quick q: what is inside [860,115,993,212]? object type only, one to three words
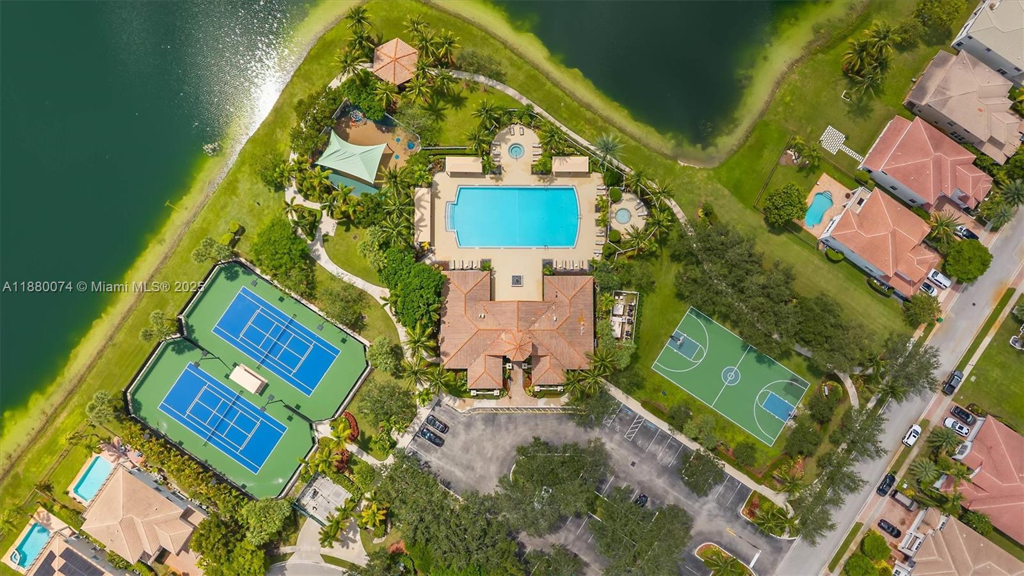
house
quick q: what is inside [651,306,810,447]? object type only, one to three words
basketball court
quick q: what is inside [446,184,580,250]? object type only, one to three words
swimming pool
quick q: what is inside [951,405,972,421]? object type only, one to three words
car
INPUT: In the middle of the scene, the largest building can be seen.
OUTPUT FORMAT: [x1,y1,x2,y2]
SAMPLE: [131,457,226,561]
[442,271,594,389]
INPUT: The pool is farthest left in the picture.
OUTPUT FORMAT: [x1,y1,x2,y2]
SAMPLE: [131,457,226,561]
[8,522,51,570]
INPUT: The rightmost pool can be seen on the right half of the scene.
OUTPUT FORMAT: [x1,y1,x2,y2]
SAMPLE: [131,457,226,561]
[805,190,834,229]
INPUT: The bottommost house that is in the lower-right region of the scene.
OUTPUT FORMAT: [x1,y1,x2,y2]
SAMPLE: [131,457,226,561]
[890,504,1024,576]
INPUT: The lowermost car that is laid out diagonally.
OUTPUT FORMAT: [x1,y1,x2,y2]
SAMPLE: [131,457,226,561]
[877,518,901,539]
